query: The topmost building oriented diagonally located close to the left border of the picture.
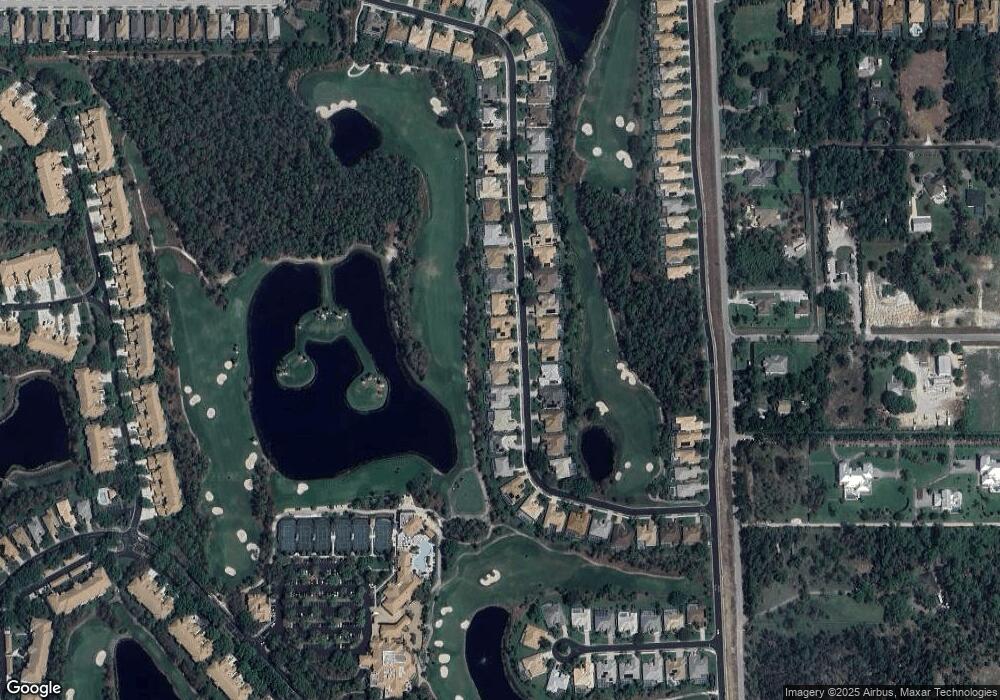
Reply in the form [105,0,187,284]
[0,85,52,147]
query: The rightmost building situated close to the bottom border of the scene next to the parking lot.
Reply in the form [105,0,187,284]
[357,549,421,698]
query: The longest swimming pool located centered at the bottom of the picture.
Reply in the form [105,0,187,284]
[411,535,435,574]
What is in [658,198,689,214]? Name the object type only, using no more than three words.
house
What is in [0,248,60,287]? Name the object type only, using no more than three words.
building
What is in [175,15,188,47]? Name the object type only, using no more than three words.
house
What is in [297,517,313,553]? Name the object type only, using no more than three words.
tennis court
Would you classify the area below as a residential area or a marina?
residential area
